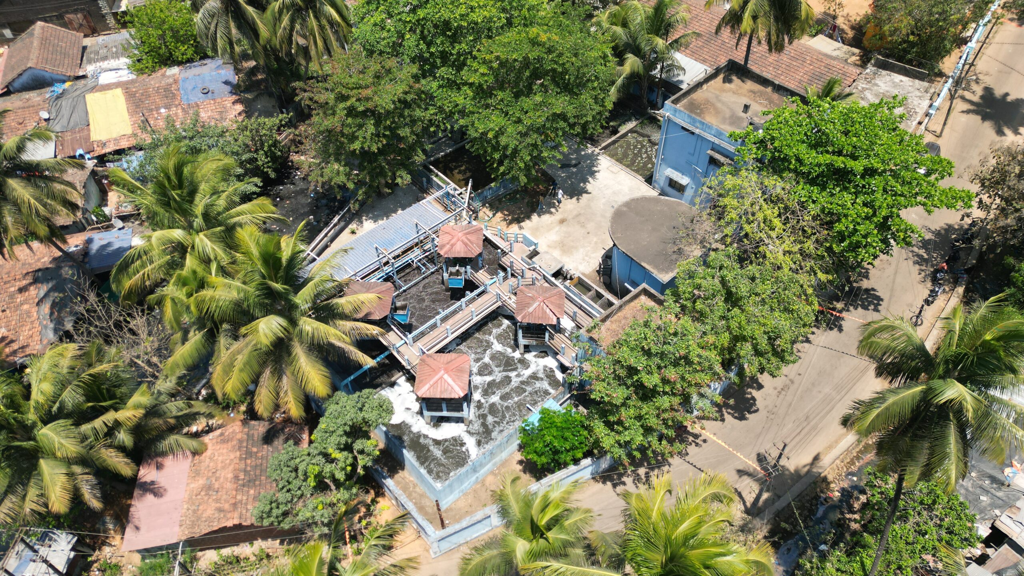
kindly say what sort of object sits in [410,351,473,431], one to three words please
gazebo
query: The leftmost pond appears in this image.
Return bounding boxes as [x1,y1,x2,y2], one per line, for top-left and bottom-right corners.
[417,132,530,210]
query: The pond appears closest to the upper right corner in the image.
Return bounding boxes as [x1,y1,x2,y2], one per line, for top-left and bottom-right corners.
[600,117,663,184]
